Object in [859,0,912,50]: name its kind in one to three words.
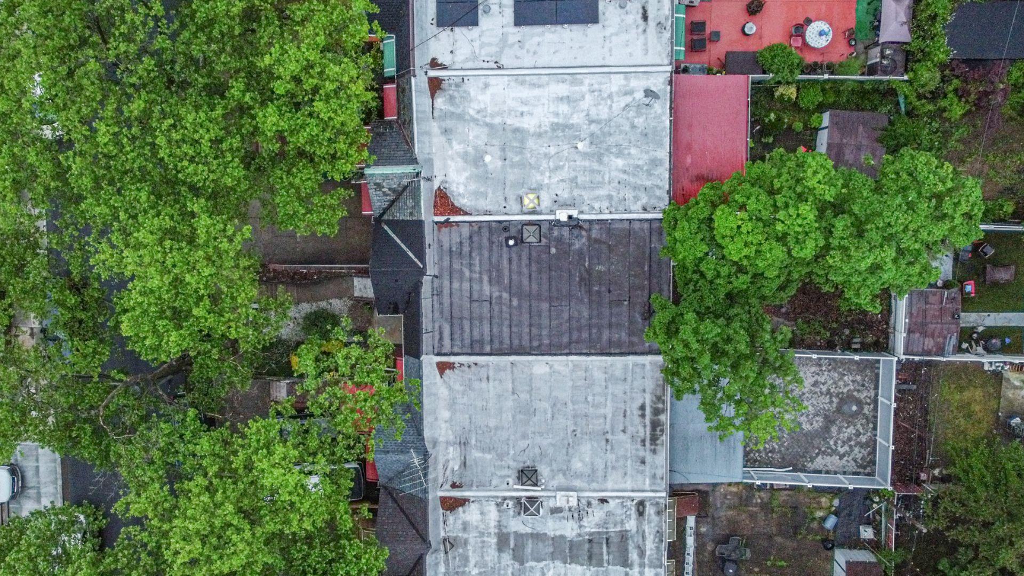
gazebo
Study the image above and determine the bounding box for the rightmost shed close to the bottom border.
[828,540,890,576]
